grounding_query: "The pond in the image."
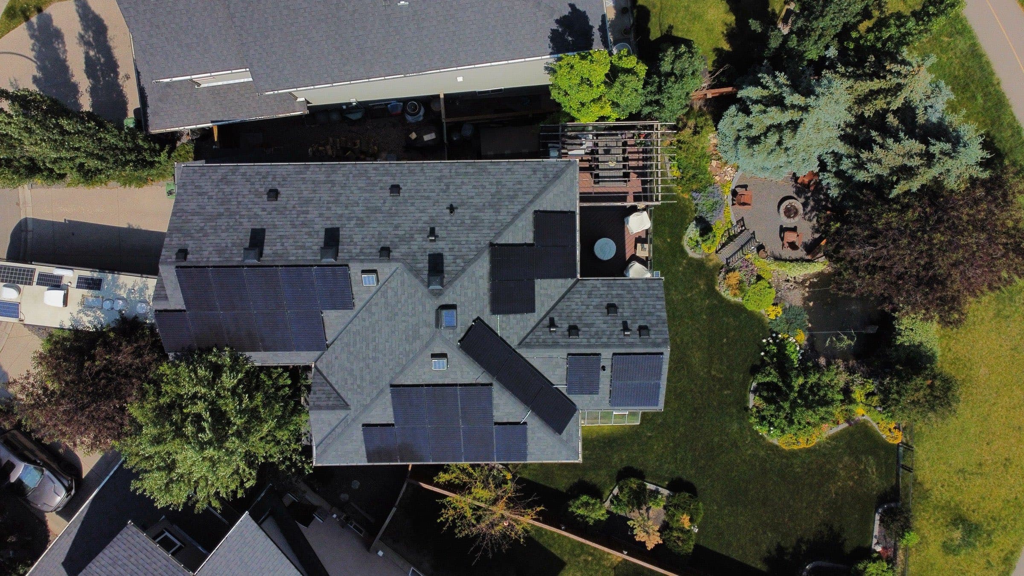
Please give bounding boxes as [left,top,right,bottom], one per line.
[805,273,897,359]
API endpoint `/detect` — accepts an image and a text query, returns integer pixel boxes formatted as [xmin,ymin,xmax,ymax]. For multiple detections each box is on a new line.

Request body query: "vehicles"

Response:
[0,416,86,519]
[0,256,160,339]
